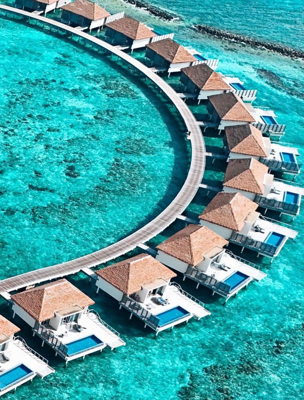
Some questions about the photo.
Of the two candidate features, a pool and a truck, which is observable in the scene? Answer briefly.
pool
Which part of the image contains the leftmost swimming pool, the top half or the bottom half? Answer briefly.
bottom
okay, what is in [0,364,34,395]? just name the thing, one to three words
swimming pool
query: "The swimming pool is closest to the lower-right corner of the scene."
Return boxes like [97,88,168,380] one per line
[214,269,250,299]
